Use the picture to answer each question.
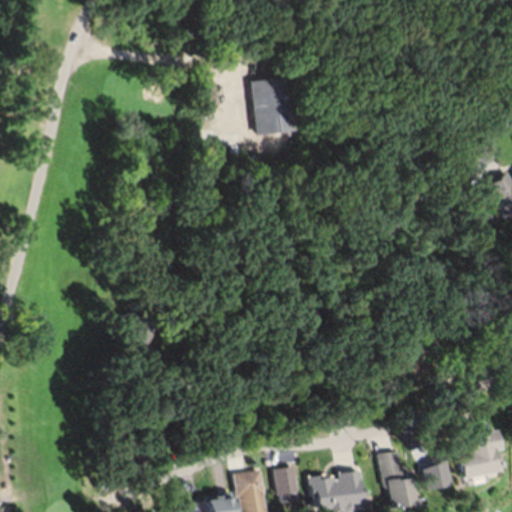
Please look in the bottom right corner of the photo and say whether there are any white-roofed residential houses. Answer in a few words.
Yes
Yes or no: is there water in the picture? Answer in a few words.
No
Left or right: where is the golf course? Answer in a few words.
left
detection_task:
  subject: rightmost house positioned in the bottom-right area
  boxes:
[466,434,511,484]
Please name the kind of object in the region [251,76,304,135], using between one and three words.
barn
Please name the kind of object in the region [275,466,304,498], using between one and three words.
house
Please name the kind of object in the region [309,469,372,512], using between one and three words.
house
